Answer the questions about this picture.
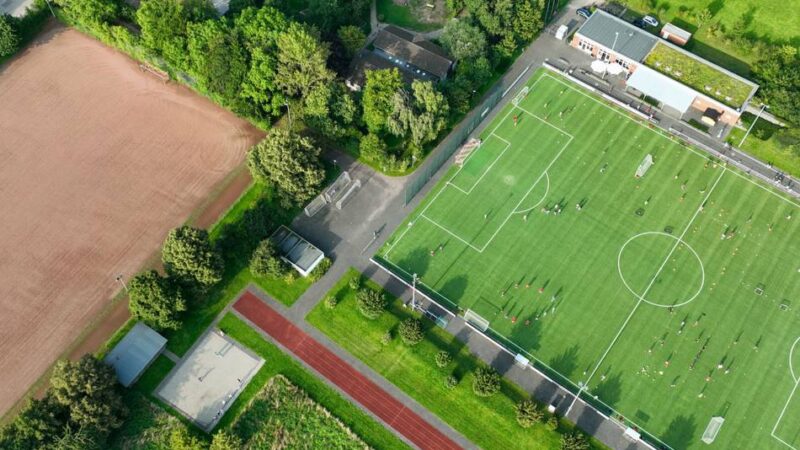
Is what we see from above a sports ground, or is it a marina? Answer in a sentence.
The picture captures a sports ground.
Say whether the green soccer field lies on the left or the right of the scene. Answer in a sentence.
The green soccer field appears in the right half of the scene.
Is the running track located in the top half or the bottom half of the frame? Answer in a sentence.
You can find the running track in the bottom half.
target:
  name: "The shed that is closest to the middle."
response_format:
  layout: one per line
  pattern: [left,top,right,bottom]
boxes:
[263,223,326,274]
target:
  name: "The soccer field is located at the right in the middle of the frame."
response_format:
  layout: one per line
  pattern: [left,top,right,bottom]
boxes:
[371,66,800,450]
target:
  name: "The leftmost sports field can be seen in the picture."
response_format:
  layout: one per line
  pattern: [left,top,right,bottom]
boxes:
[0,27,271,431]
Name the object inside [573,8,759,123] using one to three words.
building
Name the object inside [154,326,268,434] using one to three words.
sports court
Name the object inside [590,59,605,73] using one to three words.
umbrella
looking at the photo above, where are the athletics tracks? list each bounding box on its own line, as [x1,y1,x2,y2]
[231,291,464,450]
